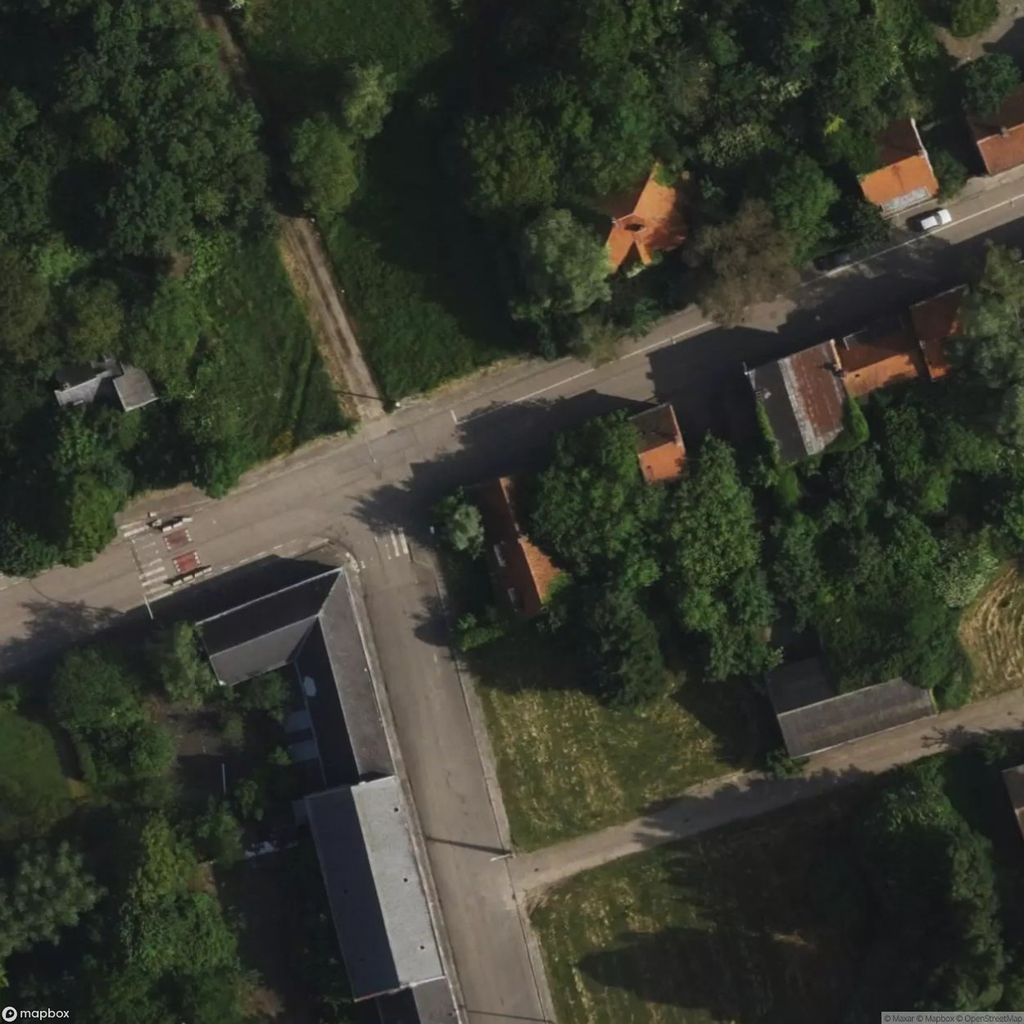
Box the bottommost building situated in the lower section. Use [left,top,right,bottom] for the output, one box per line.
[375,977,459,1024]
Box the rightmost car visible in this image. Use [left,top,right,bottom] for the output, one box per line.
[918,208,953,231]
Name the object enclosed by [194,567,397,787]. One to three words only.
house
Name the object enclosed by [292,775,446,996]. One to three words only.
building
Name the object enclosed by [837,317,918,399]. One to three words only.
house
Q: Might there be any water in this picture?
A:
No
